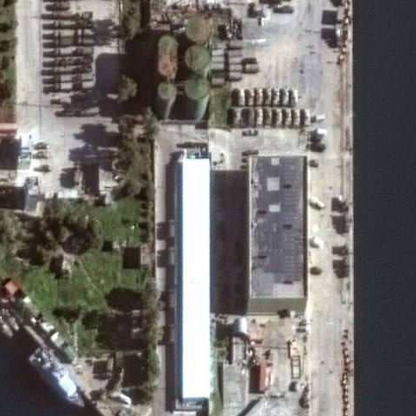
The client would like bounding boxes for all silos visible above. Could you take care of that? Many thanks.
[155,35,178,67]
[182,77,211,118]
[182,15,211,52]
[155,82,177,117]
[182,45,211,83]
[155,62,177,92]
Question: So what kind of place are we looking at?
port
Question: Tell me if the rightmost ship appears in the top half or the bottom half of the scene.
bottom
